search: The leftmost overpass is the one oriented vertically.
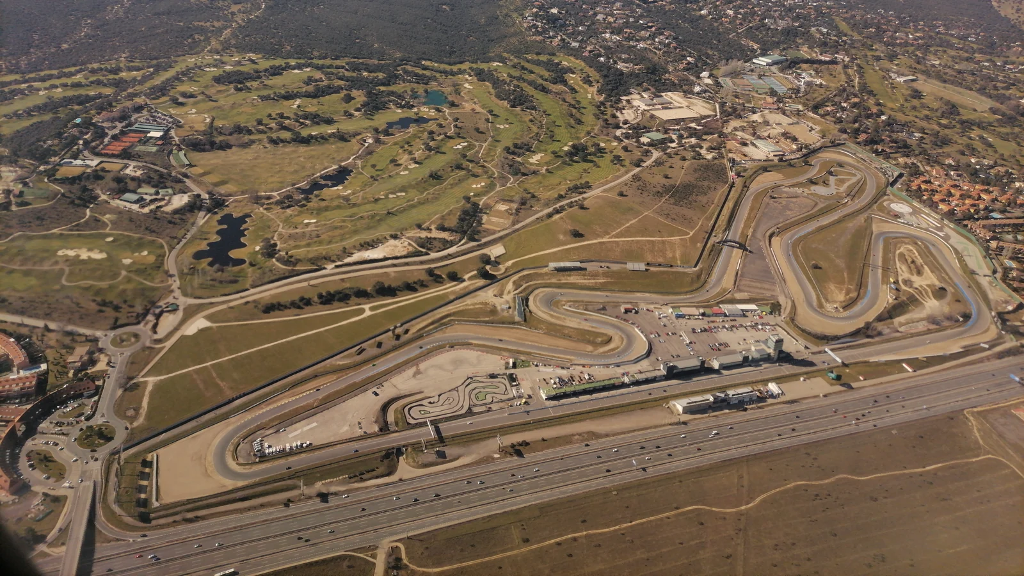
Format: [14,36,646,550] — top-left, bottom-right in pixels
[57,465,101,576]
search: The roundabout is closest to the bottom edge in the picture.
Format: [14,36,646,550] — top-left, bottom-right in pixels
[58,413,133,460]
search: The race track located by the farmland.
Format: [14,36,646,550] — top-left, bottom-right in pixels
[210,158,990,481]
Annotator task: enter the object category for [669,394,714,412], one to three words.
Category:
building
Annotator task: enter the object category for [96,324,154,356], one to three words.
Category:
roundabout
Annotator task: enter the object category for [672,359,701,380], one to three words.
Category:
building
